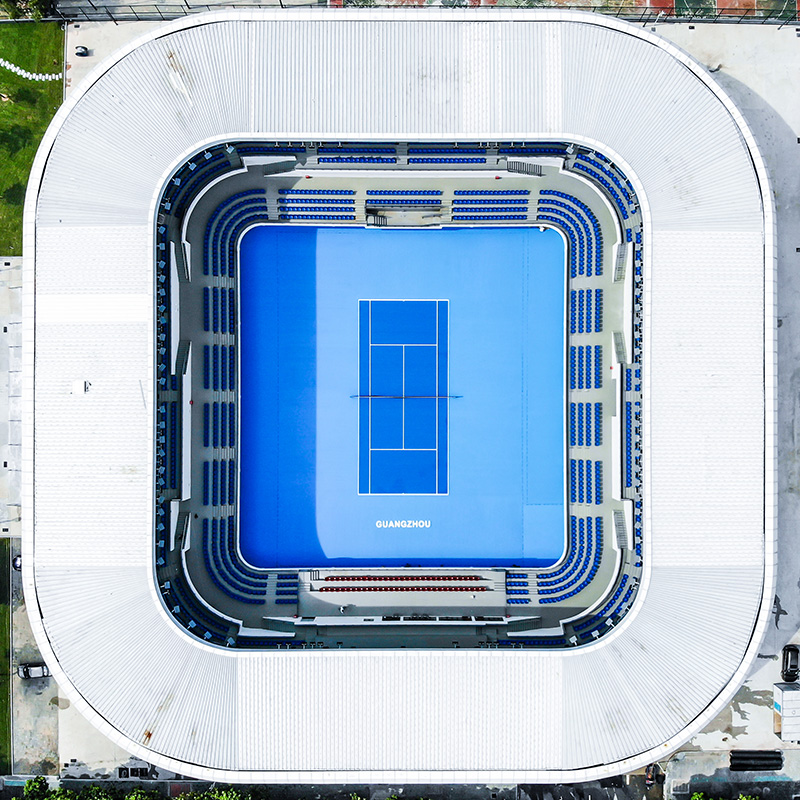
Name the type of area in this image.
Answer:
sports ground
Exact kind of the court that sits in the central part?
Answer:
tennis court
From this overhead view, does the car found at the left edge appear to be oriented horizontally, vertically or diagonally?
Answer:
horizontally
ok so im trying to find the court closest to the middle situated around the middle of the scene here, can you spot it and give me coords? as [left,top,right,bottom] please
[247,230,562,564]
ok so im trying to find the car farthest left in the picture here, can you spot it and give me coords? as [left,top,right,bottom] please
[17,662,58,682]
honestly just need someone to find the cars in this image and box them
[780,644,800,683]
[17,662,58,682]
